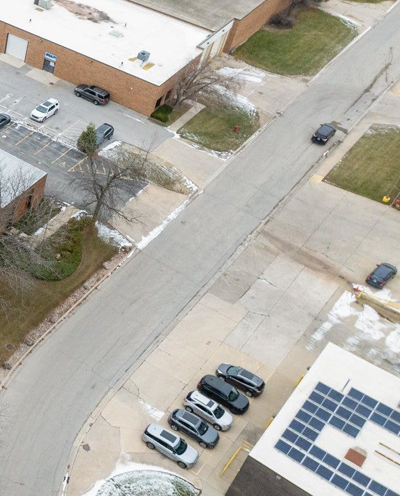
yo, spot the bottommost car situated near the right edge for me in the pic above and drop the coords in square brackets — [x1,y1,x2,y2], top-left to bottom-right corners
[364,260,394,291]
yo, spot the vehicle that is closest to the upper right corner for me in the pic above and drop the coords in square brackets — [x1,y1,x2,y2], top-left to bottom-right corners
[310,124,335,145]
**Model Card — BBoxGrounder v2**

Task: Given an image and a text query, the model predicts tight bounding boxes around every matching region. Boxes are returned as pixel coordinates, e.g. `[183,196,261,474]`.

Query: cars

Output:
[178,386,236,432]
[162,403,221,450]
[29,96,59,122]
[99,121,115,148]
[192,368,253,416]
[212,359,269,400]
[364,260,394,291]
[0,113,14,130]
[72,83,111,106]
[310,124,335,145]
[142,423,202,471]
